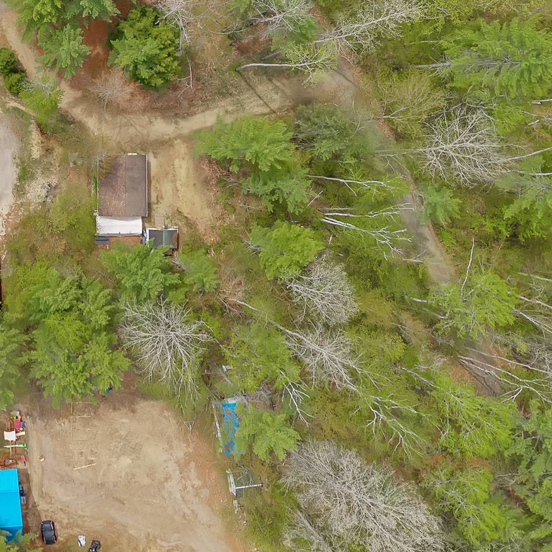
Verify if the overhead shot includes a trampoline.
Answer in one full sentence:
No, I find no trampoline anywhere in the image.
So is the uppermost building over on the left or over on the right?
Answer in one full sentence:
The uppermost building appears in the left half of the scene.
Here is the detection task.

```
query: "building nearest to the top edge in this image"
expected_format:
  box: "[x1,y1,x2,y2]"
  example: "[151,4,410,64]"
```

[96,152,148,219]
